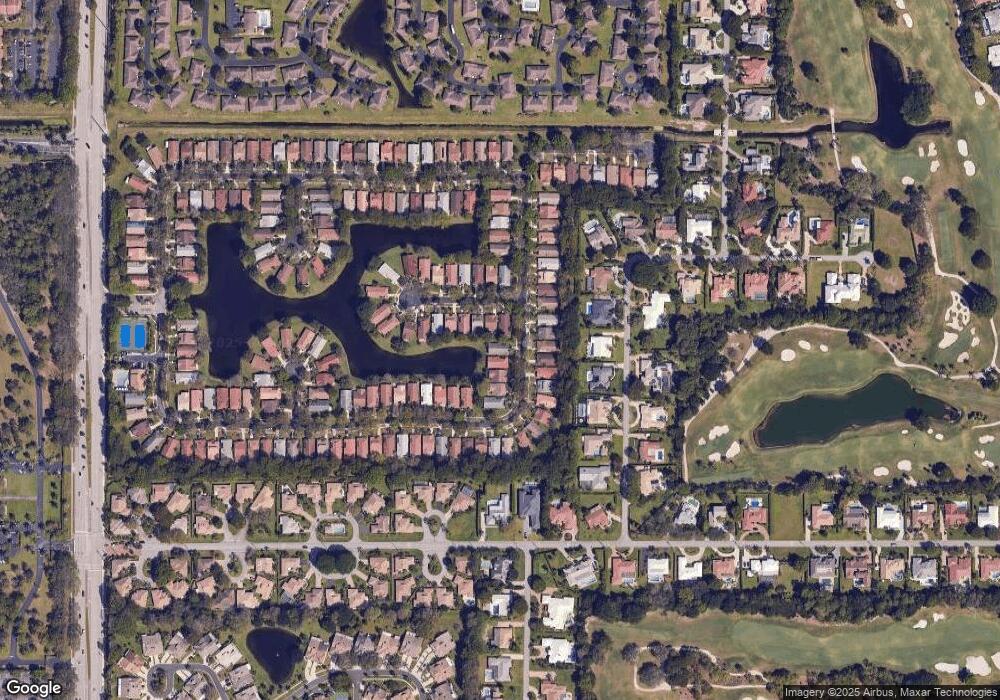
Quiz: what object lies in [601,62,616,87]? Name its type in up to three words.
house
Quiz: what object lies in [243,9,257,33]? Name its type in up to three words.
building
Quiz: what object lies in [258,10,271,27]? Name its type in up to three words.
swimming pool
